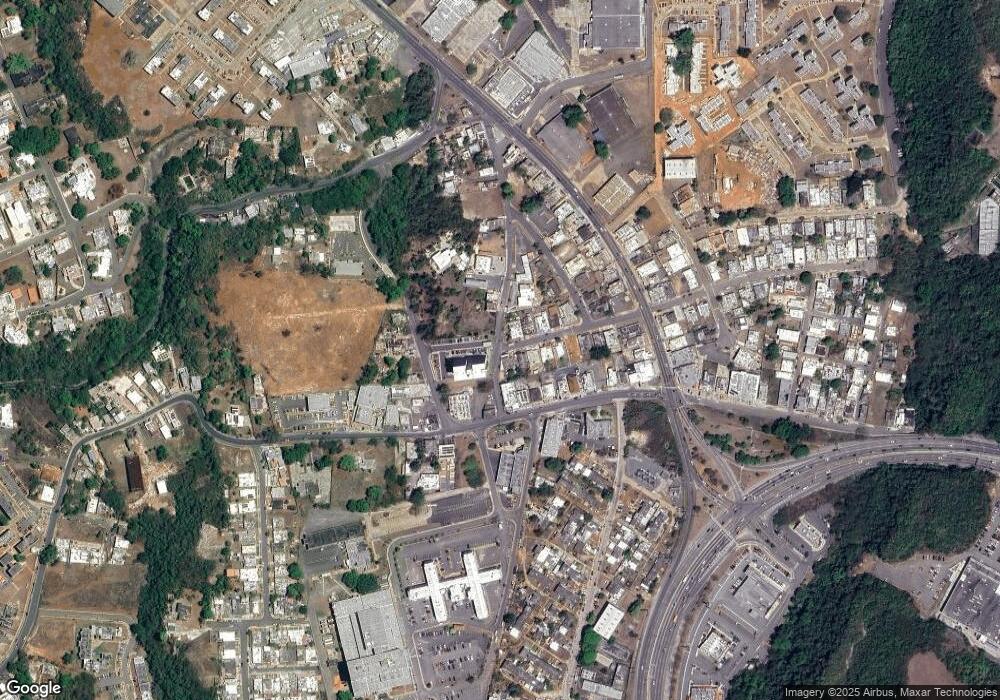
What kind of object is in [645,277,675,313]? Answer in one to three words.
house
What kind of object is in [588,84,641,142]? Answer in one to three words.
building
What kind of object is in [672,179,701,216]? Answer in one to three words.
house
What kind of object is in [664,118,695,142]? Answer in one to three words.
building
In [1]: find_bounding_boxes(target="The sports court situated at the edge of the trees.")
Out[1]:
[329,216,355,231]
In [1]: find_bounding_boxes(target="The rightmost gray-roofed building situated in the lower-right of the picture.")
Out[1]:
[934,562,1000,639]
